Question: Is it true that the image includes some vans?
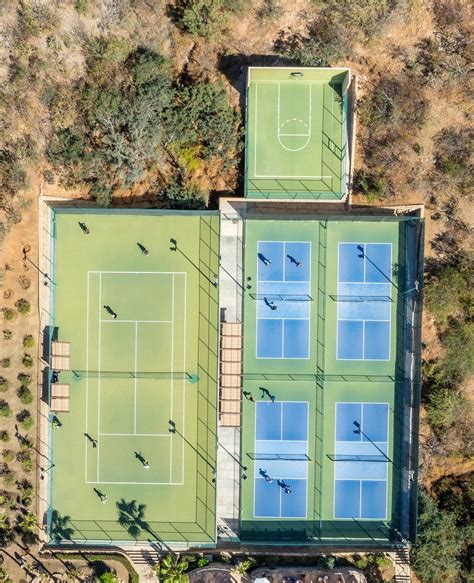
No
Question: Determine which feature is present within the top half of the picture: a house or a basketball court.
basketball court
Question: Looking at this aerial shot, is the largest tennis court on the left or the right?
left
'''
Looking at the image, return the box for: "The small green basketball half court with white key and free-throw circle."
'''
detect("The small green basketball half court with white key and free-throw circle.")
[244,80,343,199]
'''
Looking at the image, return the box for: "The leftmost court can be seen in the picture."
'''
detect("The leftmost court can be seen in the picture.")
[52,212,220,543]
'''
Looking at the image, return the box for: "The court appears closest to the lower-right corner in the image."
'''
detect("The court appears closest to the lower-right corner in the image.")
[334,402,390,520]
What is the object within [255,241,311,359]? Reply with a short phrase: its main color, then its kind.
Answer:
blue sports court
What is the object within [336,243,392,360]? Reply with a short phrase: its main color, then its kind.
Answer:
blue sports court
